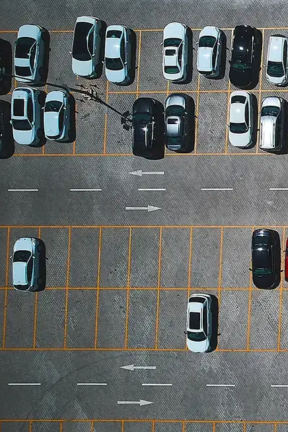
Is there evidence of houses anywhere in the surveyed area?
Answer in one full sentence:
No, there appears to be no house in this shot.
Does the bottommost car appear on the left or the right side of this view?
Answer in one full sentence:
The bottommost car is on the right side of the image.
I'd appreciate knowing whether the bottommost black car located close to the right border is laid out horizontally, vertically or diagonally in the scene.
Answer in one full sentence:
In this picture, the bottommost black car located close to the right border is oriented vertically.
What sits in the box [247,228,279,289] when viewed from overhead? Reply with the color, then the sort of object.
black car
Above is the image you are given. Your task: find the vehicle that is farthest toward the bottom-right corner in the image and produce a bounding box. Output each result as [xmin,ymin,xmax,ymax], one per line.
[182,293,215,352]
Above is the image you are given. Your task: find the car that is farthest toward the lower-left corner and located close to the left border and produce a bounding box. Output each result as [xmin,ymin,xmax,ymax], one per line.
[6,236,41,290]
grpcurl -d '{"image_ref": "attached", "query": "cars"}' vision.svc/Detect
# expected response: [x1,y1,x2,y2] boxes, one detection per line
[160,93,192,151]
[127,97,161,156]
[182,293,215,352]
[69,16,104,78]
[11,26,47,84]
[100,25,134,82]
[4,88,41,144]
[225,91,255,148]
[159,24,191,81]
[247,228,279,289]
[281,236,288,283]
[226,25,260,88]
[193,27,224,75]
[38,92,72,140]
[6,236,41,290]
[261,34,288,86]
[256,97,287,151]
